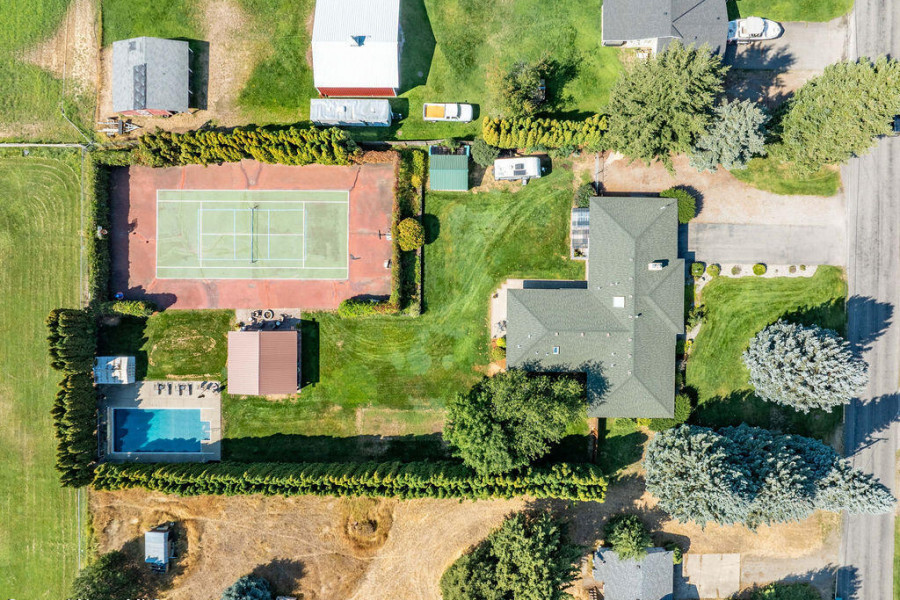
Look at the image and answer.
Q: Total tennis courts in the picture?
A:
1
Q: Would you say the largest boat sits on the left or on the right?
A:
right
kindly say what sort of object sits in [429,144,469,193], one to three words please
shed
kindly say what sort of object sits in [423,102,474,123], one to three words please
truck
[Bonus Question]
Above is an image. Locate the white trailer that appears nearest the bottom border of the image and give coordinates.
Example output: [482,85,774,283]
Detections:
[493,158,546,188]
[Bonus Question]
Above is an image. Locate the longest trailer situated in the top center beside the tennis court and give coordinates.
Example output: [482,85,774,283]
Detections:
[312,99,402,128]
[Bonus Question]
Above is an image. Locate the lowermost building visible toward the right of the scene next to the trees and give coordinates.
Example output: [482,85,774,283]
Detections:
[592,542,674,600]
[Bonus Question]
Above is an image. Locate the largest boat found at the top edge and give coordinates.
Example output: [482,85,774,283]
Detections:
[728,18,784,42]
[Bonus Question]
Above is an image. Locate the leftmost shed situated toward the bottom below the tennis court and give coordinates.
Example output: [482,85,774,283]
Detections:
[95,356,143,384]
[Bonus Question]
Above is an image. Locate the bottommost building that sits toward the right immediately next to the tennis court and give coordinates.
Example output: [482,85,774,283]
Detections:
[505,196,686,418]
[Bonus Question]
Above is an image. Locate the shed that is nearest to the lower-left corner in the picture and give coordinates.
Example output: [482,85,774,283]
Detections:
[145,526,184,572]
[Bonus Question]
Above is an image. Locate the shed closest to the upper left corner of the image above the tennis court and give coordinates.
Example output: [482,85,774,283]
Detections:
[113,37,194,115]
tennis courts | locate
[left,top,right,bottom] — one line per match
[108,158,397,312]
